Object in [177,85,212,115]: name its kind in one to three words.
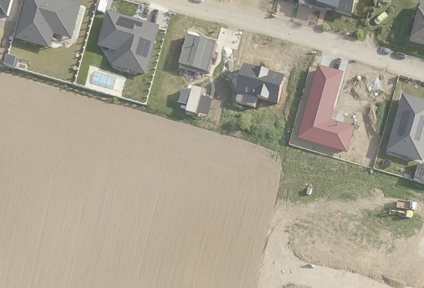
house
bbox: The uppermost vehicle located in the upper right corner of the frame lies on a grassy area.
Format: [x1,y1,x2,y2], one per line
[374,12,388,24]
